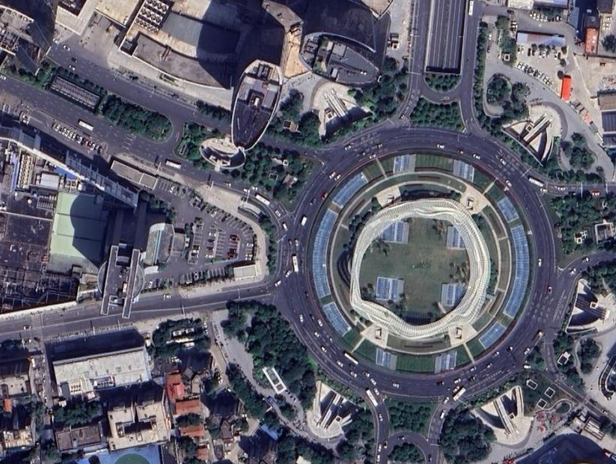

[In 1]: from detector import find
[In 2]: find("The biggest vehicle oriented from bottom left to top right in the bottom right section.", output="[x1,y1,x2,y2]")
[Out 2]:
[451,387,466,404]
